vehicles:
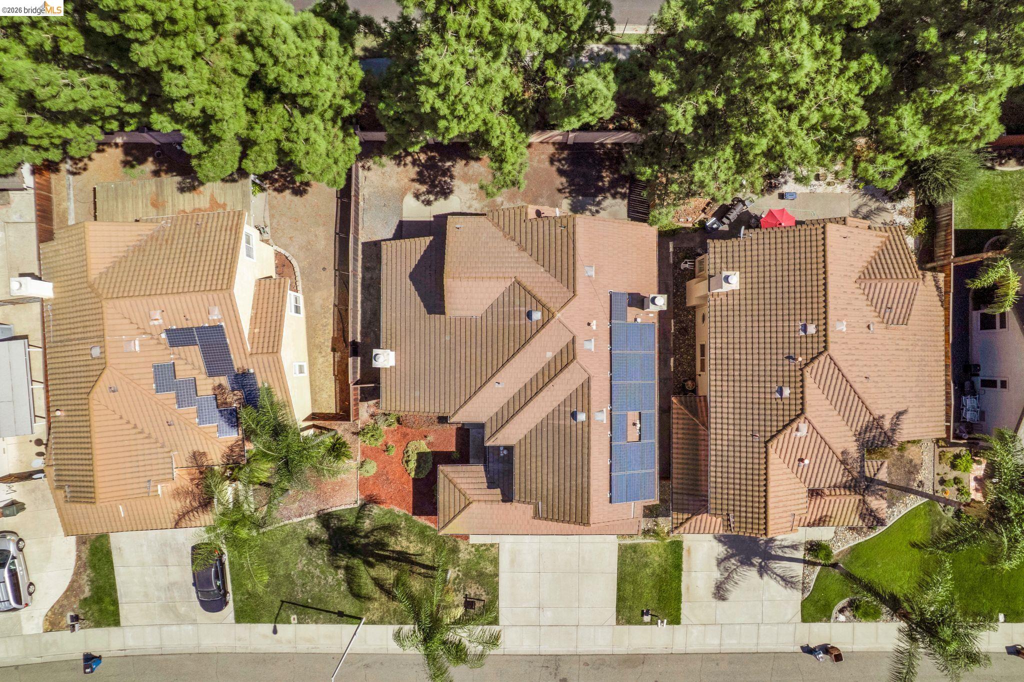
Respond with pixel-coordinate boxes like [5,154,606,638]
[0,533,34,612]
[190,544,229,614]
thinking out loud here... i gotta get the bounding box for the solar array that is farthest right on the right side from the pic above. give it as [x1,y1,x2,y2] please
[607,292,655,503]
